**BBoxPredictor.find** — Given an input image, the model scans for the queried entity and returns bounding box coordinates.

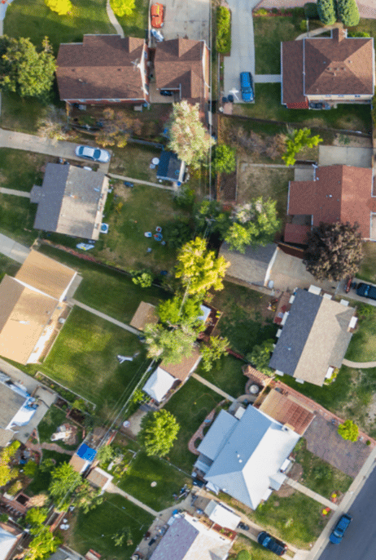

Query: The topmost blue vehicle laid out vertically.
[239,70,255,103]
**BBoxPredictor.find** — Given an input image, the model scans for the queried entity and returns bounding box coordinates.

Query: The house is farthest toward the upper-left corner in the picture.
[53,34,152,102]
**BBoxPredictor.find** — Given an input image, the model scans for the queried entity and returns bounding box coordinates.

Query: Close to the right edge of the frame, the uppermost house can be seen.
[281,26,375,106]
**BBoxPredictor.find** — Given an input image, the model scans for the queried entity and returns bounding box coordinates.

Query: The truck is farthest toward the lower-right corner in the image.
[328,512,354,545]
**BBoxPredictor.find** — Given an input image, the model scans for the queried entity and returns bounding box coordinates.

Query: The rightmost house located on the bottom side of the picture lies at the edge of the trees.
[268,288,360,388]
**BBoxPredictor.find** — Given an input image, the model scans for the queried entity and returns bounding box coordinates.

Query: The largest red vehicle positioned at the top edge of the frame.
[149,3,164,30]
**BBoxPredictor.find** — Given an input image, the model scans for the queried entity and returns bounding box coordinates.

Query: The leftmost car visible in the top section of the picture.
[74,147,112,163]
